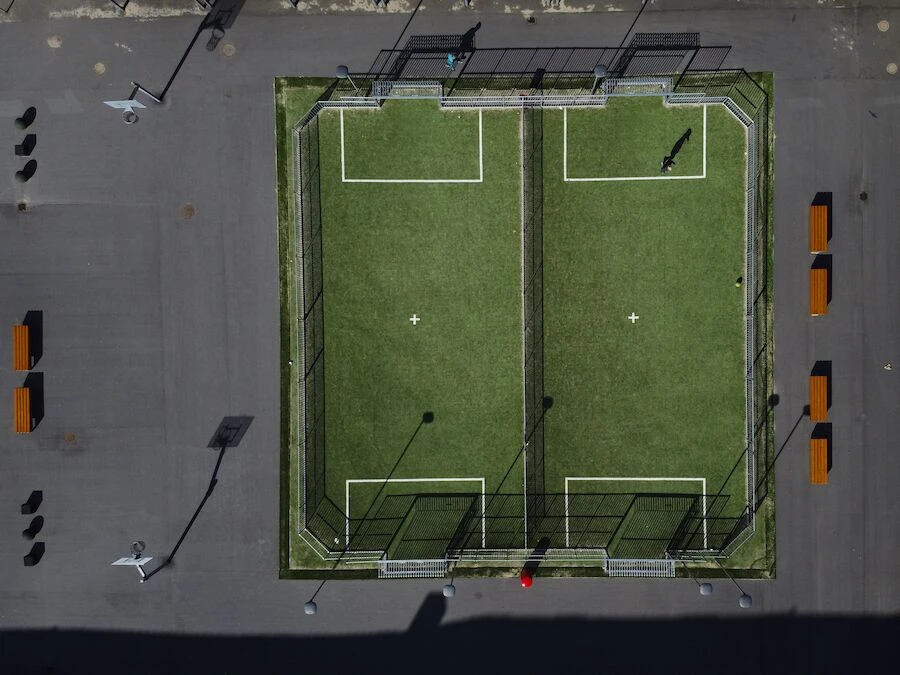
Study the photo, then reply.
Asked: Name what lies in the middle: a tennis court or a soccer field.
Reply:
soccer field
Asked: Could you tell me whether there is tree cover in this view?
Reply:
No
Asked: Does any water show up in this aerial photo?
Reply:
No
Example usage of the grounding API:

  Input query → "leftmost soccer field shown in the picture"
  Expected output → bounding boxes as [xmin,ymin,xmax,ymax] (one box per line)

[300,107,526,551]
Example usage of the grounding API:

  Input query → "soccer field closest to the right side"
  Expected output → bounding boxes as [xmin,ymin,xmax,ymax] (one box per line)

[524,105,748,551]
